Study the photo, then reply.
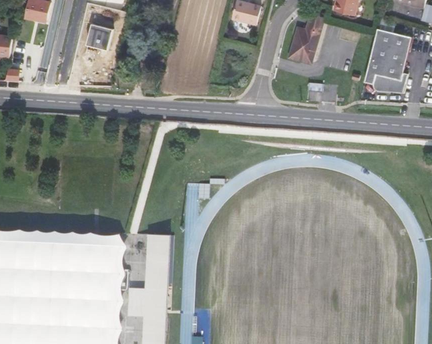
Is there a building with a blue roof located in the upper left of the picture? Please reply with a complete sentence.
No, in the upper left of the picture there is no building with a blue roof.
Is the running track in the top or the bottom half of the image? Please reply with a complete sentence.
The running track sits in the bottom half of the picture.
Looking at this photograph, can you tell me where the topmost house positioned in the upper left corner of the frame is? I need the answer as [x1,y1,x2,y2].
[24,0,52,24]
